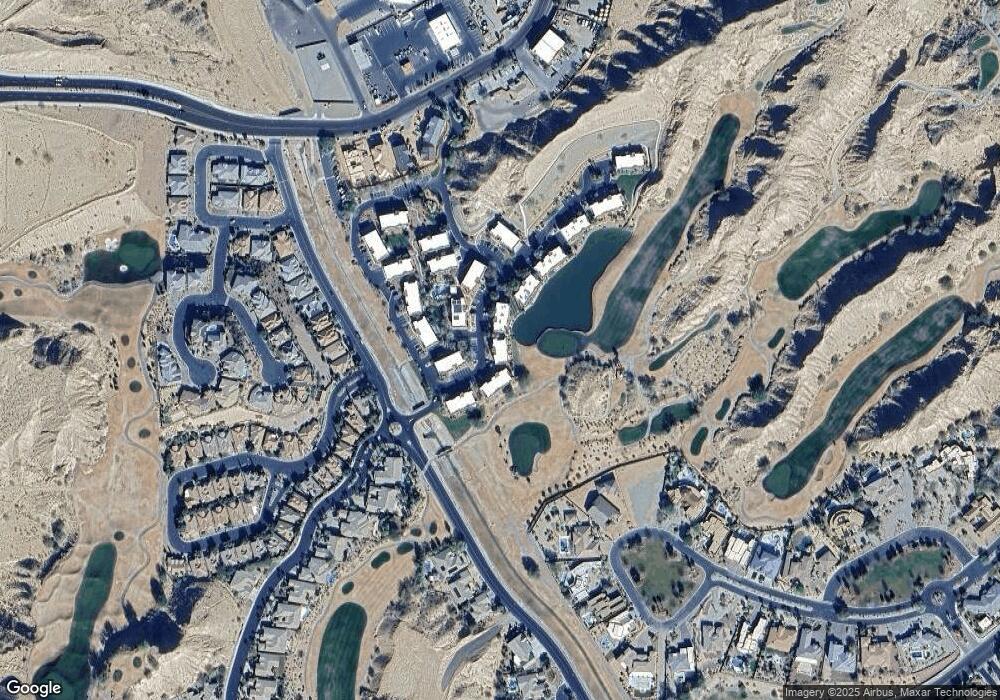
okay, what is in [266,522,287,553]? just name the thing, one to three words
house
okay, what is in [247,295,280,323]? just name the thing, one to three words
house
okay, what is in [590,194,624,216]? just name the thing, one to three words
building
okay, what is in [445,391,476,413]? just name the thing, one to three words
building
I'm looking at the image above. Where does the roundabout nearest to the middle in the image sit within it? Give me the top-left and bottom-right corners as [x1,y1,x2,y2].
[379,407,413,447]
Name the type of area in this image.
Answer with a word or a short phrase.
residential area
